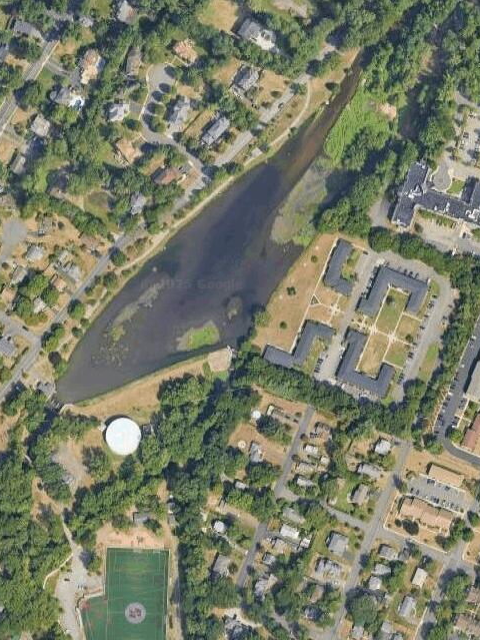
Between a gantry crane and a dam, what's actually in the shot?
dam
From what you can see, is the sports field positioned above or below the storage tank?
below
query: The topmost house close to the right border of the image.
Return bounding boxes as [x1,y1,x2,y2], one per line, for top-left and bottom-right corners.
[390,163,480,227]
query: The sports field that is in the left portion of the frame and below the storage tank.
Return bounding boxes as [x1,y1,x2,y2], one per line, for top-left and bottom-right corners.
[81,548,169,640]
